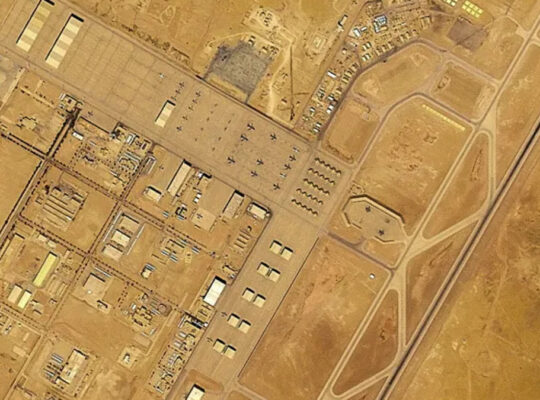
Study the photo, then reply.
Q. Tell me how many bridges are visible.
0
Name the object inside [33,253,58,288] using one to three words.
building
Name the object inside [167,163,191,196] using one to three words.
hangar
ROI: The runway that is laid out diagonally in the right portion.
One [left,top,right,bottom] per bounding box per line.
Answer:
[373,112,540,400]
